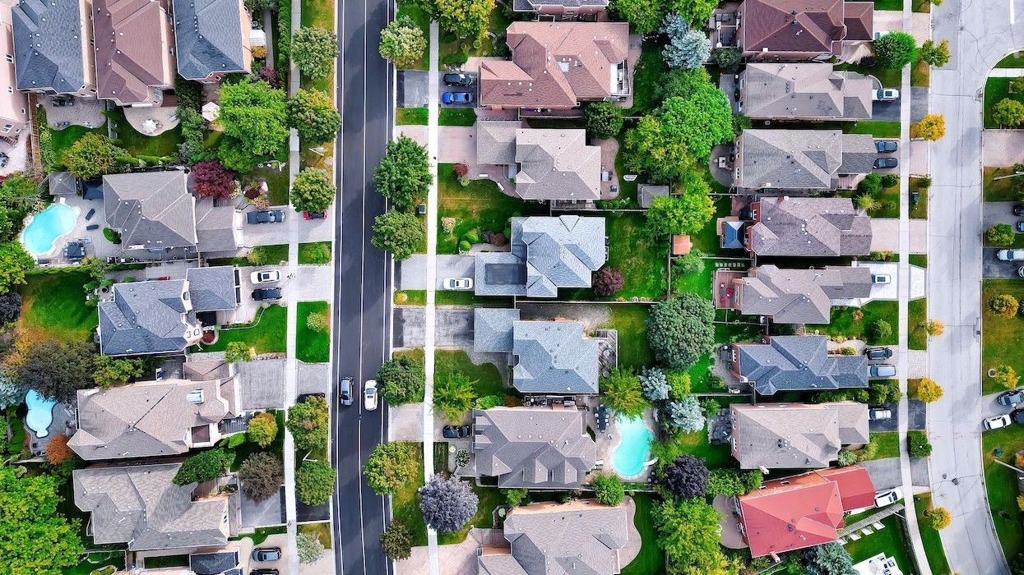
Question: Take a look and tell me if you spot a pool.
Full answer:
Yes, looking at the shot, I can spot a pool.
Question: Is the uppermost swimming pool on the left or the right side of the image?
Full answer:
It is on the left.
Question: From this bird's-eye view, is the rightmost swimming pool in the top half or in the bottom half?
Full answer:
The bottom half of the photo is where the rightmost swimming pool is.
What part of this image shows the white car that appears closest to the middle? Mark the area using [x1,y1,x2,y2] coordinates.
[444,277,473,291]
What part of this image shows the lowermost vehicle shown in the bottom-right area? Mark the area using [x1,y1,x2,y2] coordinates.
[874,488,902,506]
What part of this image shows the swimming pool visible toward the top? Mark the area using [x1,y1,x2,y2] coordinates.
[19,199,80,256]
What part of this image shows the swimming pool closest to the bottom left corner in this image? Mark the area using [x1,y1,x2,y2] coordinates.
[24,390,55,438]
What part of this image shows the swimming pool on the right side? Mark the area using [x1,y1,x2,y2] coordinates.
[611,411,655,480]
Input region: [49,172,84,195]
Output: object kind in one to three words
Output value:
shed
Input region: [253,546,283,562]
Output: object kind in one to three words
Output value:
car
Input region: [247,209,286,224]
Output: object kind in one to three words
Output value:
vehicle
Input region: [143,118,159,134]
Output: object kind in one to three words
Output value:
umbrella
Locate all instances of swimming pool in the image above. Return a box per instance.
[19,199,80,256]
[24,390,55,438]
[611,411,655,480]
